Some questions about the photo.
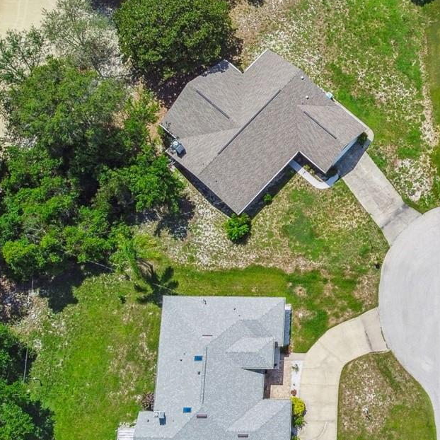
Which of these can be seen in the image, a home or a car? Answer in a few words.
home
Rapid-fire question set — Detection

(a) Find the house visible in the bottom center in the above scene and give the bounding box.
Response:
[135,296,292,440]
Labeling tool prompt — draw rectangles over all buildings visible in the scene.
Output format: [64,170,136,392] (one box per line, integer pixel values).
[135,296,292,440]
[159,50,369,216]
